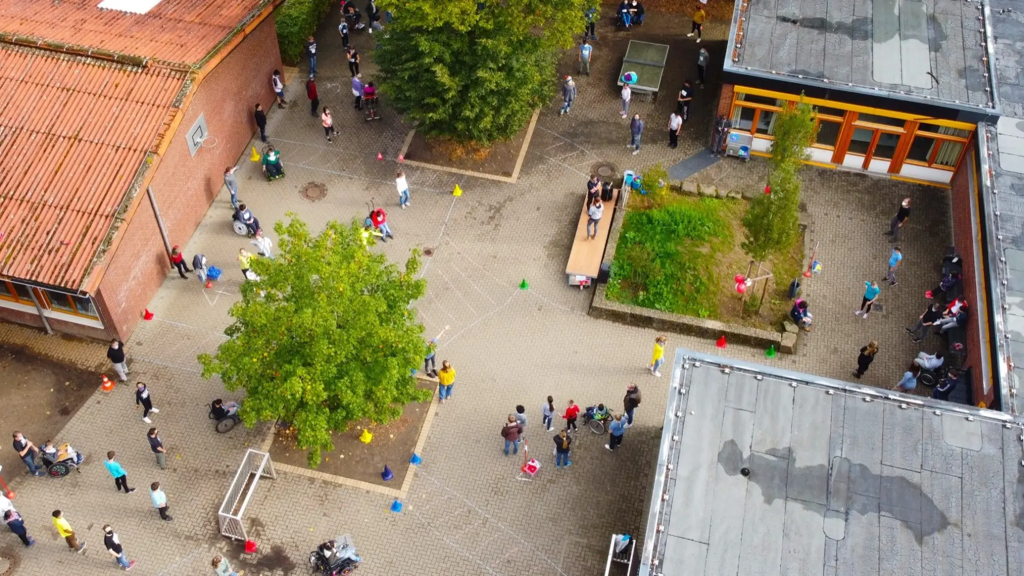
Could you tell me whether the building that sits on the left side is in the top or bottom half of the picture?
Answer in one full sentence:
The building that sits on the left side sits in the top half of the picture.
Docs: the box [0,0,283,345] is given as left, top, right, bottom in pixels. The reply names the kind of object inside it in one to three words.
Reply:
building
